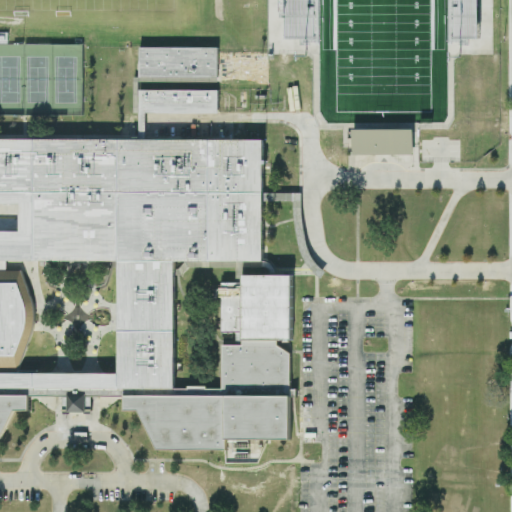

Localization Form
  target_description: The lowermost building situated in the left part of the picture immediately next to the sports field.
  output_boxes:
[0,138,264,389]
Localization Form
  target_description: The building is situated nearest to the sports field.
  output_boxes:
[348,128,414,154]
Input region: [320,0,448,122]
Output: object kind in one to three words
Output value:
sports field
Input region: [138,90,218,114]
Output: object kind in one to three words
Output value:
building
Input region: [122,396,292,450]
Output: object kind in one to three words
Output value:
building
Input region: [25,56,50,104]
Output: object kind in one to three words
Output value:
tennis court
